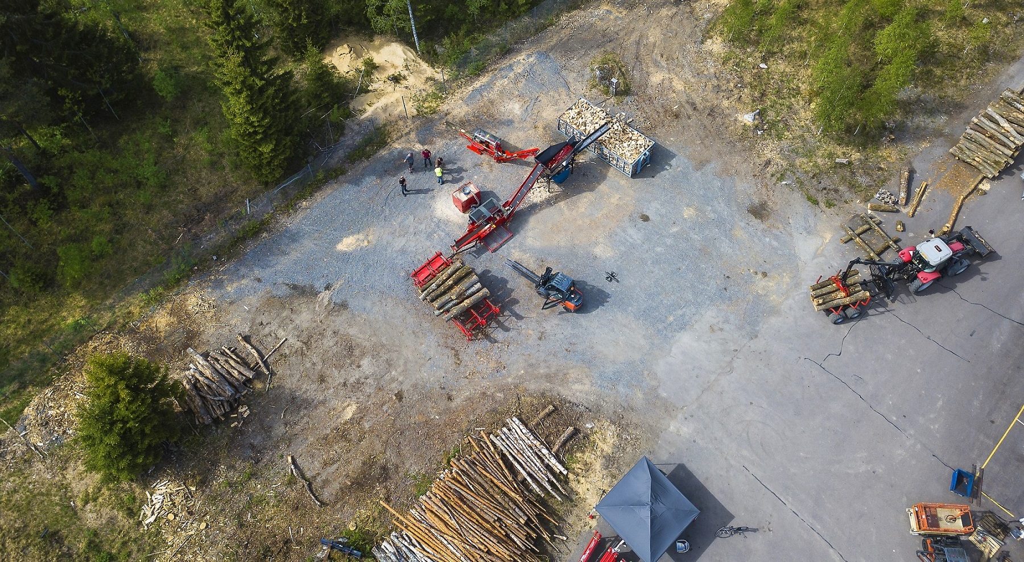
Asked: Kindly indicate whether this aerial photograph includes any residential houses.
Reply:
No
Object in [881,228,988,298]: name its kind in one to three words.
work vehicle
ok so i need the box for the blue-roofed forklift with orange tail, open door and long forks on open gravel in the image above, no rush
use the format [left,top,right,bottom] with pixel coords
[506,263,585,313]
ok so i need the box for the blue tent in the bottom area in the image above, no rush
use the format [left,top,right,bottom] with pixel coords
[591,456,700,562]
